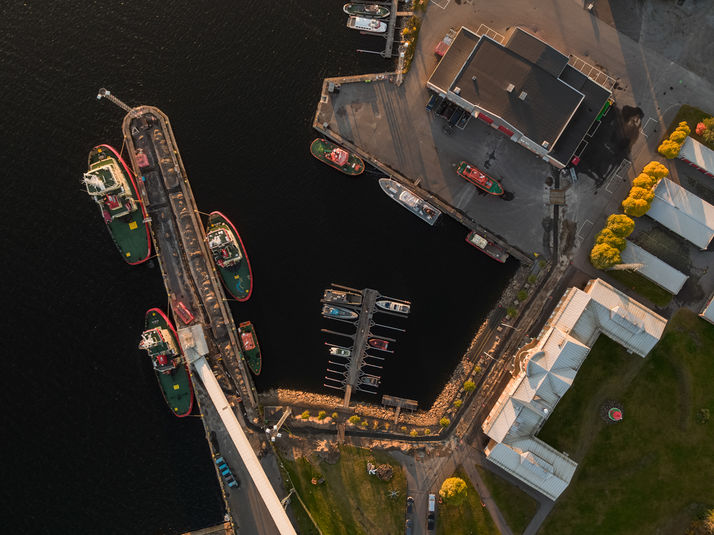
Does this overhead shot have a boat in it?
Yes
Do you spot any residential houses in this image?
Yes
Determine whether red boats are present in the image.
Yes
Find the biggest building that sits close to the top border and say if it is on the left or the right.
right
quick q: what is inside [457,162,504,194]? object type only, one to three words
boat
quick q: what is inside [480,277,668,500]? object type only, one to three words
house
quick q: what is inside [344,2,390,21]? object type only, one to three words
boat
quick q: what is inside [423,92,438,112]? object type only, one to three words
car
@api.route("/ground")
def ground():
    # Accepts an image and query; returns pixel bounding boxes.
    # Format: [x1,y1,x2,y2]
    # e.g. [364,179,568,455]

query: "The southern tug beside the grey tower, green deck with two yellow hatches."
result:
[137,306,196,418]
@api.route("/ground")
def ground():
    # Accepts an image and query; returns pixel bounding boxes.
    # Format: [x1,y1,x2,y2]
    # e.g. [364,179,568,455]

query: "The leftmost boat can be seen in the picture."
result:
[83,144,153,266]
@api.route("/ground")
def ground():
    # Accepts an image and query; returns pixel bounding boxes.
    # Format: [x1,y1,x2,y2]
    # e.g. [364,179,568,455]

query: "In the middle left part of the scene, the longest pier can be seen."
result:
[123,105,259,404]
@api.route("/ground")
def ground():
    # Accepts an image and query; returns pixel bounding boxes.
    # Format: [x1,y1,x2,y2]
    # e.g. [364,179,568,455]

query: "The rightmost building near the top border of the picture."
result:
[425,25,612,169]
